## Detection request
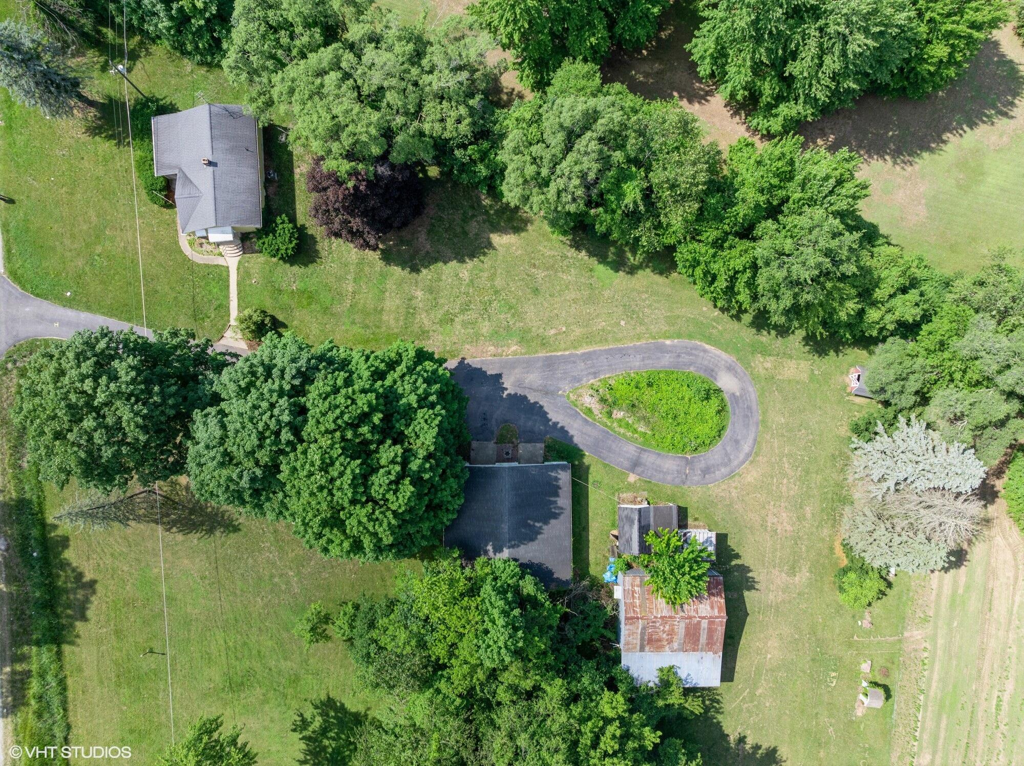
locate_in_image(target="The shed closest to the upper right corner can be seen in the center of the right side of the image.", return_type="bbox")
[854,365,894,399]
